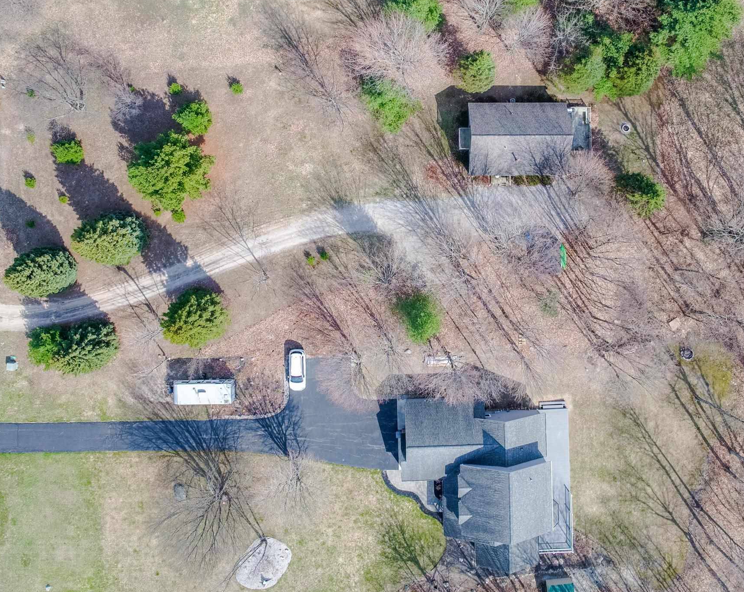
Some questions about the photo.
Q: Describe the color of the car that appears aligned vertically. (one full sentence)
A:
In this view, the car that appears aligned vertically is white.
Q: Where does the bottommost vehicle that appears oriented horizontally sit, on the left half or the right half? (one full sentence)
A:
The bottommost vehicle that appears oriented horizontally appears in the left half of the scene.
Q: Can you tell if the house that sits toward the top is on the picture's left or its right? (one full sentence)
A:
You can find the house that sits toward the top on the right side of the picture.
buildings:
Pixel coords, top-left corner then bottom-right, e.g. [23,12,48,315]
[458,101,595,192]
[546,576,574,592]
[395,392,574,575]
